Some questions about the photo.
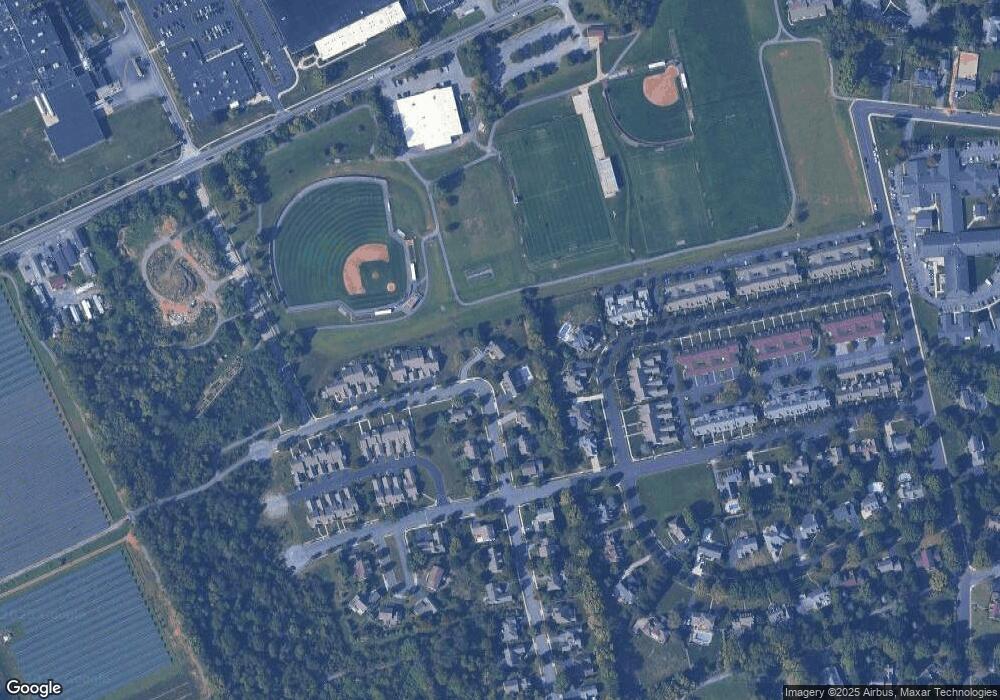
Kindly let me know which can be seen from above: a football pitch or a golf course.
football pitch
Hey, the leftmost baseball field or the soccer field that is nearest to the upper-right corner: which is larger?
the baseball field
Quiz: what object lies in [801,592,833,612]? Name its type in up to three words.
house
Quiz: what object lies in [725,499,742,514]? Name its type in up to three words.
swimming pool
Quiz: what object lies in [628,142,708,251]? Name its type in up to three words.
soccer field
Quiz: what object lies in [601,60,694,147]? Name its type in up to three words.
baseball field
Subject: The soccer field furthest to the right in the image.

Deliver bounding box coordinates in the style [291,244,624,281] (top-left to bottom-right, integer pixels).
[701,111,783,232]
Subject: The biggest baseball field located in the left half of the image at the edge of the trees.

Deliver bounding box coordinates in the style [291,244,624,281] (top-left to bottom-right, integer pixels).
[273,177,411,312]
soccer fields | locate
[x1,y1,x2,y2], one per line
[701,111,783,232]
[628,142,708,251]
[509,124,603,260]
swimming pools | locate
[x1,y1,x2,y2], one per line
[559,321,571,341]
[725,499,742,514]
[691,632,713,643]
[519,365,532,380]
[899,473,910,481]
